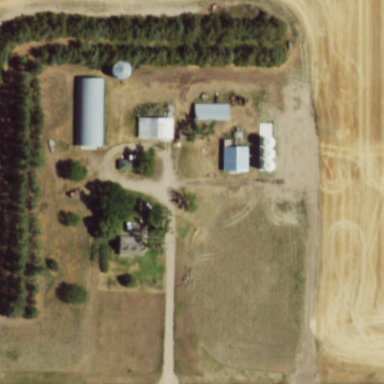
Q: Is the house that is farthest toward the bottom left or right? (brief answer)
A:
left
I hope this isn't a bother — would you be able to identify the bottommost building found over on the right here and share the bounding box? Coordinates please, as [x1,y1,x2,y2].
[223,146,249,174]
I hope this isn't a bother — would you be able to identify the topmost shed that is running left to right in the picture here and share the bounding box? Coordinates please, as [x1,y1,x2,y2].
[194,103,230,120]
